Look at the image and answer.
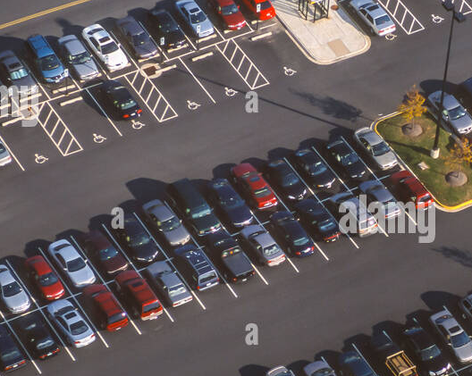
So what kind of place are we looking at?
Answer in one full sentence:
It's a parking lot.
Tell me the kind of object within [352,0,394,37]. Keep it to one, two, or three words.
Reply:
car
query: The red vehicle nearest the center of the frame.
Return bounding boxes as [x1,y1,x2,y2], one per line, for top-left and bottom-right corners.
[234,166,276,210]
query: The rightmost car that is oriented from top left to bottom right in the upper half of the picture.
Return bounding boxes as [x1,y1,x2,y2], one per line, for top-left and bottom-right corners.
[429,90,472,135]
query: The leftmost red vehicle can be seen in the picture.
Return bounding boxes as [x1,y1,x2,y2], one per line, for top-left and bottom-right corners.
[20,252,65,302]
